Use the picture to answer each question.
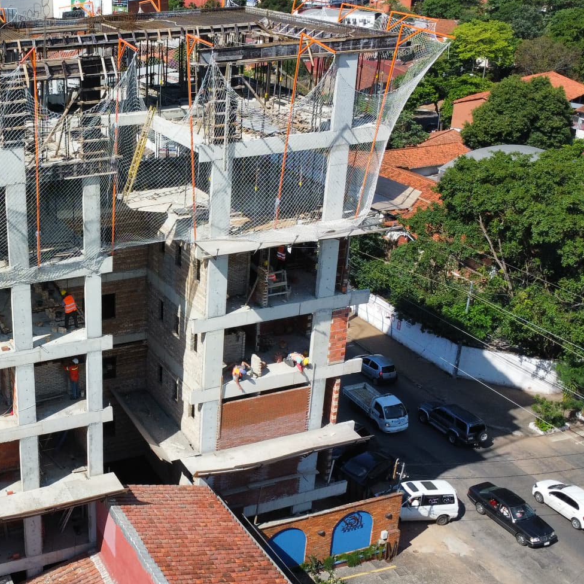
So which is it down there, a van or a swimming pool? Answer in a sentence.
The one in the frame is a van.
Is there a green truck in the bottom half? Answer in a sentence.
No, there is no green truck in the bottom half.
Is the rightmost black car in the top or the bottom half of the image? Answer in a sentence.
It is in the bottom half that the rightmost black car appears.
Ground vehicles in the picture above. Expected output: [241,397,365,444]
[469,487,564,553]
[388,476,457,524]
[534,481,584,533]
[357,352,401,385]
[333,444,381,491]
[342,378,413,431]
[419,402,489,448]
